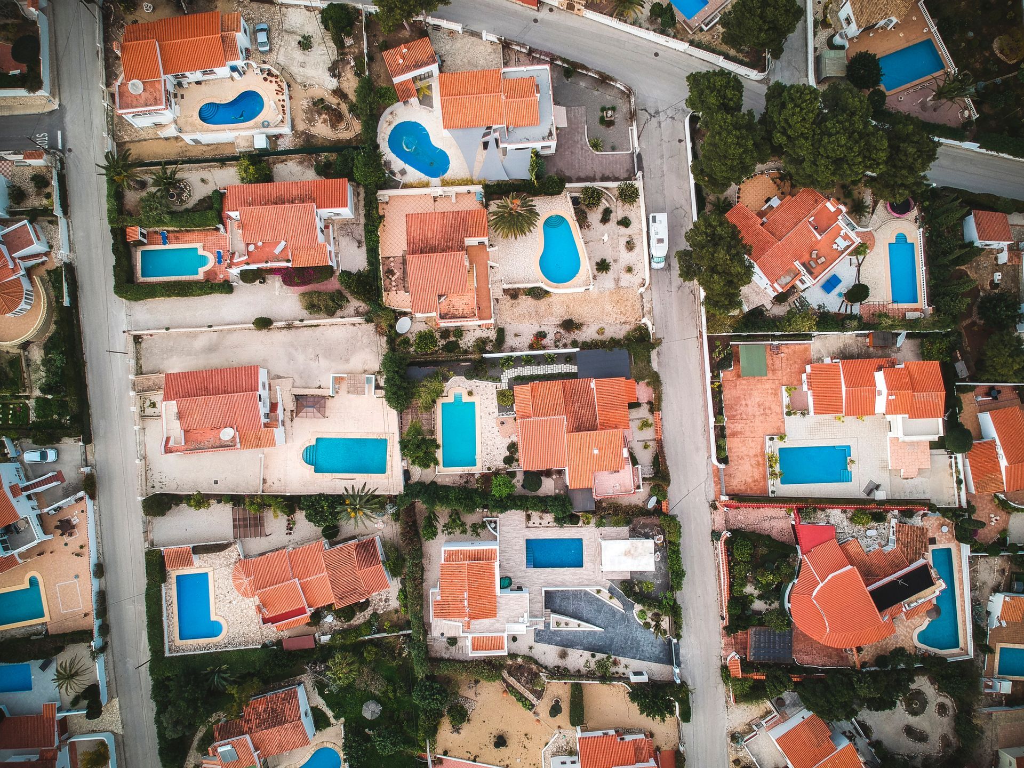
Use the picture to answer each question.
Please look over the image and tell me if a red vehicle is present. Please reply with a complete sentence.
No, there appears to be no red vehicle in this shot.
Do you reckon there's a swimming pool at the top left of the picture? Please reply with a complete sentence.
Yes, a swimming pool is visible at the top left of the picture.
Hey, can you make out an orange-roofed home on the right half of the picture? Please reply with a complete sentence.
Yes, on the right half of the picture there is an orange-roofed home.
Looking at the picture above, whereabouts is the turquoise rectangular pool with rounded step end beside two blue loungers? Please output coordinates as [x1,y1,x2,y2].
[136,243,213,281]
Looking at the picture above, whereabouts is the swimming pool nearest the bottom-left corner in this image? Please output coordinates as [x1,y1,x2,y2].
[0,664,30,693]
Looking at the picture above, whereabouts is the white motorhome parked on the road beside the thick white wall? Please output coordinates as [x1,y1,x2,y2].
[648,211,670,270]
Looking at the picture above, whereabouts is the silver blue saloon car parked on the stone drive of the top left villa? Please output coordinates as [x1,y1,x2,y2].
[253,22,272,55]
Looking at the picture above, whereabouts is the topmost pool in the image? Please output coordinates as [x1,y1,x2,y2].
[668,0,713,23]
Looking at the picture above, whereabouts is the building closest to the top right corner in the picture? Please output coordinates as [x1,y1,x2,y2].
[828,0,913,51]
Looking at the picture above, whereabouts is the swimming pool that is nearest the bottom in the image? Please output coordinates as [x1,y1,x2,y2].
[291,741,348,768]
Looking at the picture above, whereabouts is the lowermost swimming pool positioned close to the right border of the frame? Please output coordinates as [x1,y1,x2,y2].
[995,643,1024,681]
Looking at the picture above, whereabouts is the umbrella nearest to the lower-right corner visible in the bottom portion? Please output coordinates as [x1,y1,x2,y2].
[924,603,940,618]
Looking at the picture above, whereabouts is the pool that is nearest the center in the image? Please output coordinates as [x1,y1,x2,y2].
[439,388,481,471]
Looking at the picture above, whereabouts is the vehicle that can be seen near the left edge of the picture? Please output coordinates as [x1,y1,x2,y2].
[23,448,60,465]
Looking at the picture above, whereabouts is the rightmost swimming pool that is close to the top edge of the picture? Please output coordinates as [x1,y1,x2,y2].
[876,34,951,96]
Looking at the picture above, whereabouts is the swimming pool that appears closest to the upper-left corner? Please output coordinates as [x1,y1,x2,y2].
[193,84,269,130]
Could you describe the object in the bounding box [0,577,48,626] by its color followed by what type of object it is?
blue swimming pool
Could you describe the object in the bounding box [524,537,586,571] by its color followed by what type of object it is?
blue swimming pool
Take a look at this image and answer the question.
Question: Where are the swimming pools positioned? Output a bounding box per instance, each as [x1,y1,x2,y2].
[0,664,30,693]
[884,227,923,307]
[298,435,390,477]
[777,443,855,487]
[291,741,348,768]
[136,243,213,281]
[995,643,1024,681]
[913,544,966,655]
[668,0,713,23]
[439,388,481,471]
[876,34,951,96]
[535,209,586,288]
[524,537,586,571]
[386,118,452,180]
[0,577,48,626]
[172,569,227,645]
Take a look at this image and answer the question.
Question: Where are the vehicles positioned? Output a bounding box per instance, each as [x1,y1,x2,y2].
[253,22,272,55]
[23,448,60,465]
[648,211,670,270]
